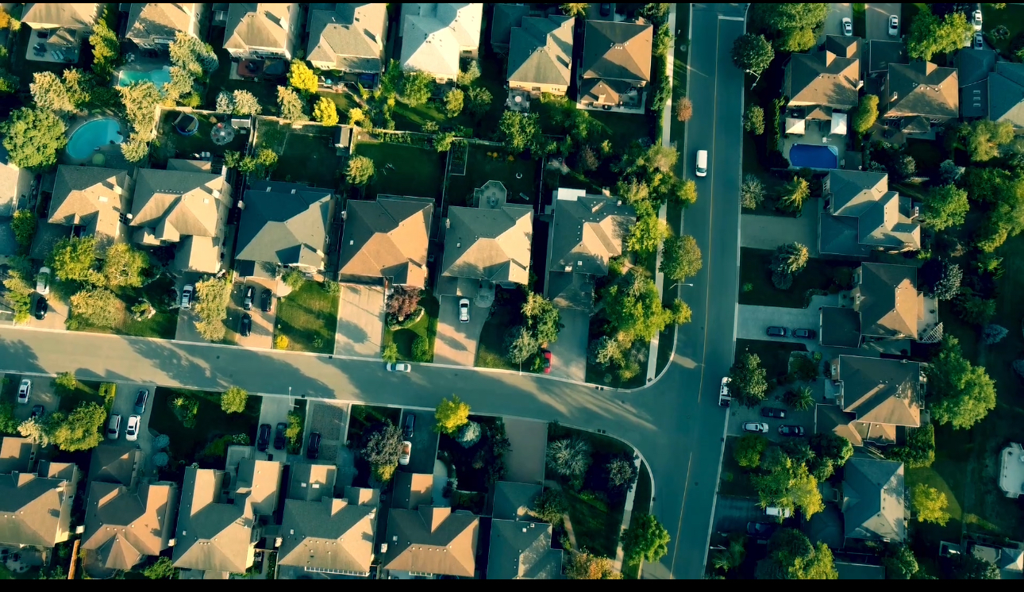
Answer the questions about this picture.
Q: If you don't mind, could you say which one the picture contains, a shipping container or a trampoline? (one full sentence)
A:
The one in the frame is a trampoline.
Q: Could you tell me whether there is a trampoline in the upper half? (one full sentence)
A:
Yes, a trampoline shows up in the upper half.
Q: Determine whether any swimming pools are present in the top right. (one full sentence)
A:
Yes, looking in the top right, one can make out a swimming pool.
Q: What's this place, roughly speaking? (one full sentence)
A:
It's a residential area.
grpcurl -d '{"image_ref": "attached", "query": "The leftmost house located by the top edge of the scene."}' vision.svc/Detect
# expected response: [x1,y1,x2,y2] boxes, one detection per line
[20,0,105,46]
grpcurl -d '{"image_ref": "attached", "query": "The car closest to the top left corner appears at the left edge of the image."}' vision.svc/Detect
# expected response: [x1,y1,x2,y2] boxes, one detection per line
[38,267,50,292]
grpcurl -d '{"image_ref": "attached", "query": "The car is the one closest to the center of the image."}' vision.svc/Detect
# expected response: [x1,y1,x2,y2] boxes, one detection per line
[458,297,470,322]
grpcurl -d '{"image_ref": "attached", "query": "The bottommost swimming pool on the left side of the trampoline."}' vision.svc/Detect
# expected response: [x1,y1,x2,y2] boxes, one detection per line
[64,116,124,161]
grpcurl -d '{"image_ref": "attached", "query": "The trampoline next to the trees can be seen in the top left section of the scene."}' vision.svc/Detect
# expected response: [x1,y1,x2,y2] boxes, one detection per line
[171,110,197,135]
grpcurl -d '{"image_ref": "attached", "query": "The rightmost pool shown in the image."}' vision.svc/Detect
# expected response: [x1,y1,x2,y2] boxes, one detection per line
[787,141,839,169]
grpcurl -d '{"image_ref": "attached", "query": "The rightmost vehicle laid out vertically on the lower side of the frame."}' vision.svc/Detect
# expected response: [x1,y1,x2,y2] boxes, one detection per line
[719,377,731,408]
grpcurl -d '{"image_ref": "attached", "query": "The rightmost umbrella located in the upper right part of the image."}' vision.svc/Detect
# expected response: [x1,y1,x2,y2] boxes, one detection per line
[827,113,849,134]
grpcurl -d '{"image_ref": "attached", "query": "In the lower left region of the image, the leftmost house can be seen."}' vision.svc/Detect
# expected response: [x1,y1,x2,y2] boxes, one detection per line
[0,436,84,550]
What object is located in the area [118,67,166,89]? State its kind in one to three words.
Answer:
swimming pool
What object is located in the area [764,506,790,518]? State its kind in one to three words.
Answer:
vehicle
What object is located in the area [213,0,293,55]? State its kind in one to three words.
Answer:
house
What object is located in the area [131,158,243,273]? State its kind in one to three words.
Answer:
house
